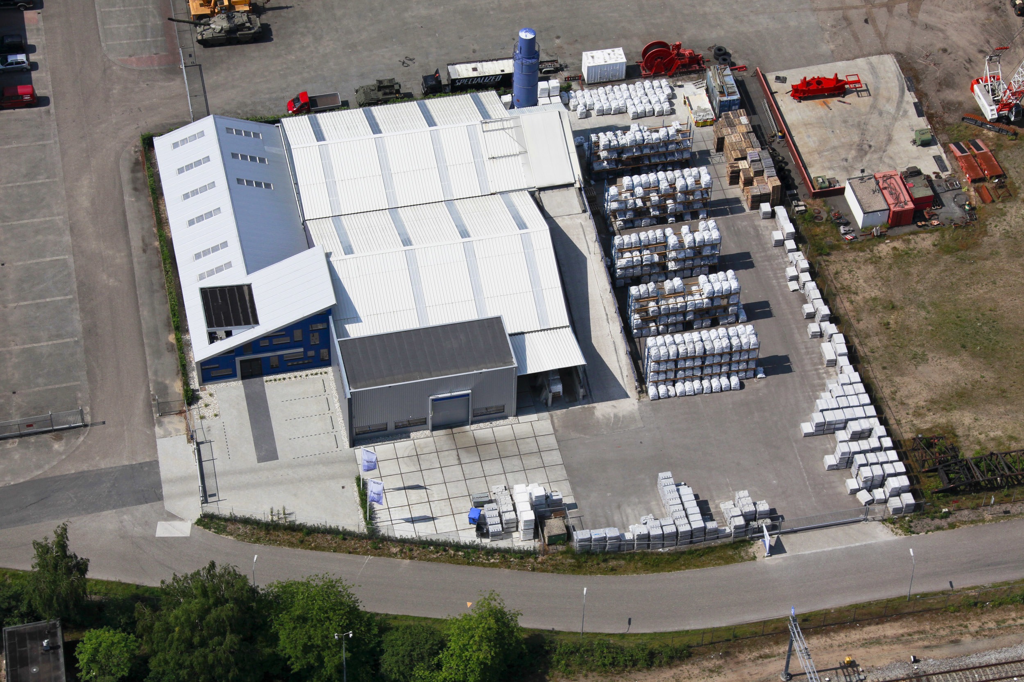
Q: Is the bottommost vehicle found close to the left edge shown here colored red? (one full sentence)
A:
Yes, the bottommost vehicle found close to the left edge is red.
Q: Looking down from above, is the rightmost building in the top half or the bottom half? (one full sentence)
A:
You can find the rightmost building in the top half.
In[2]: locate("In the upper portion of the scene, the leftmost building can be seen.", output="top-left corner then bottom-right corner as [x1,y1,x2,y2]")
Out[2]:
[150,113,338,387]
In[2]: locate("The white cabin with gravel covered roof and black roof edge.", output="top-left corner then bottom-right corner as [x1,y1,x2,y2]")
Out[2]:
[848,173,890,229]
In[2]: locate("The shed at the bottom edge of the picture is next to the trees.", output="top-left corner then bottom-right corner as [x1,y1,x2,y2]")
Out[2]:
[2,617,67,682]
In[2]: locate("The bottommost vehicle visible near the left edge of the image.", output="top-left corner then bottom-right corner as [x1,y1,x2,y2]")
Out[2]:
[0,83,36,109]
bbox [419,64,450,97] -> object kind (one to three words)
truck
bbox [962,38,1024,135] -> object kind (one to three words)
crane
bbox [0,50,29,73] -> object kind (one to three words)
car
